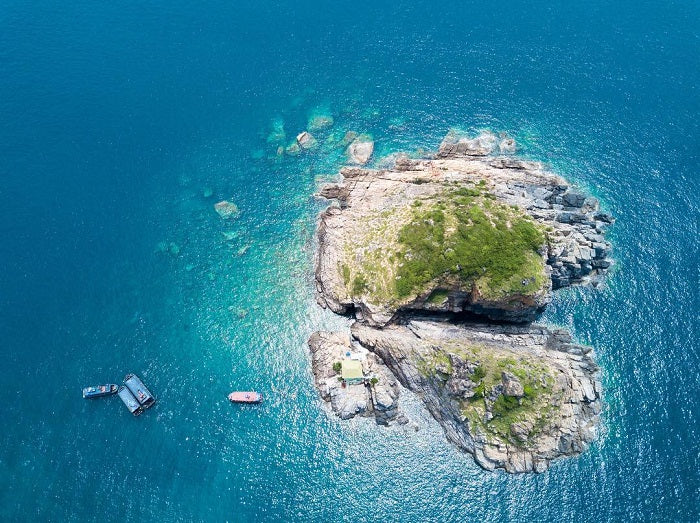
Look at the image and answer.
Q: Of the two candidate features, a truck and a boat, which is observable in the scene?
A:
boat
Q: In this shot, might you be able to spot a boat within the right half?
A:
No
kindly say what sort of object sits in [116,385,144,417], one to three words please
boat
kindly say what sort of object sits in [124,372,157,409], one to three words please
boat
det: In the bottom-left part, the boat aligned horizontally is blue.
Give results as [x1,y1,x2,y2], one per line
[82,385,118,399]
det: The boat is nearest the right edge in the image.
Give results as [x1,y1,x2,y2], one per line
[228,390,264,404]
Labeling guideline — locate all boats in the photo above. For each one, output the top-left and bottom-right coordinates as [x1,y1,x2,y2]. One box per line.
[124,372,157,409]
[116,385,144,417]
[228,390,264,404]
[82,385,118,399]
